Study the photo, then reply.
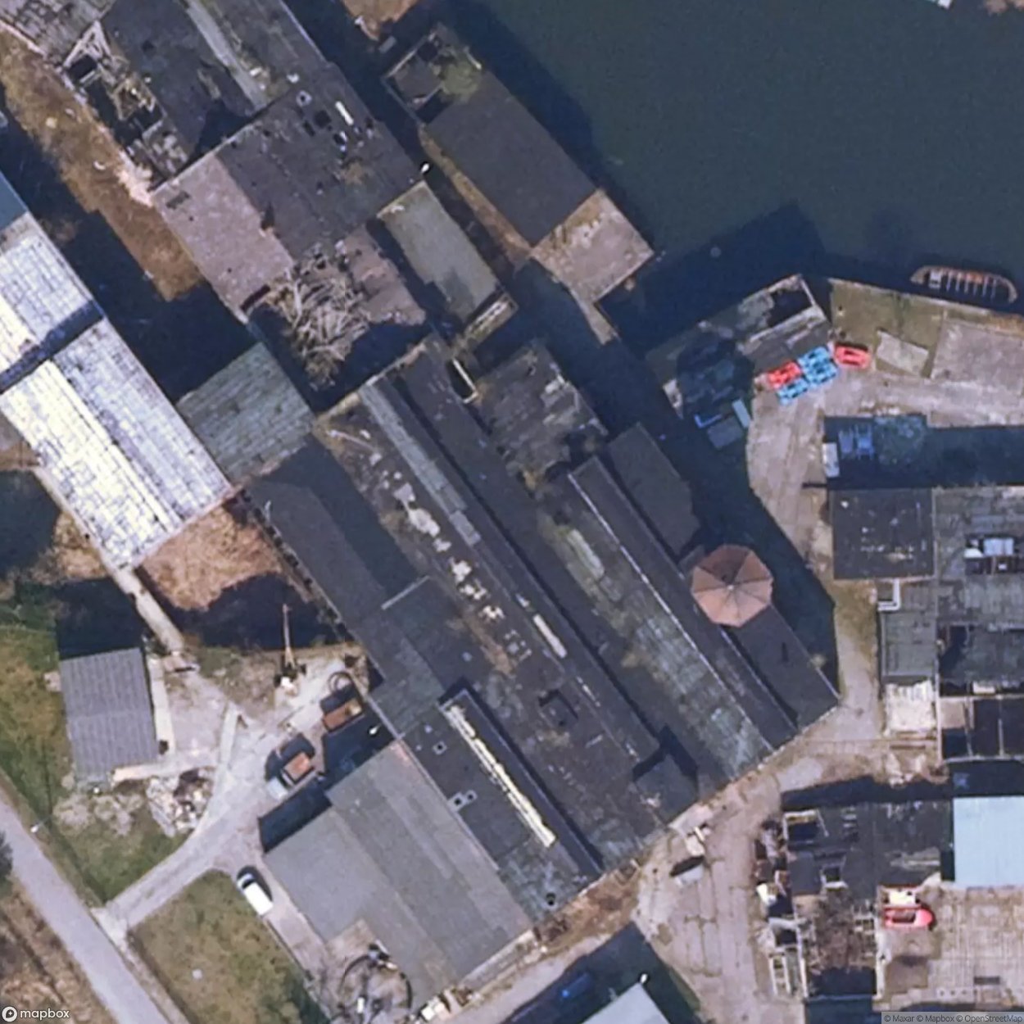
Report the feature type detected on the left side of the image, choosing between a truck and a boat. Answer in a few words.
truck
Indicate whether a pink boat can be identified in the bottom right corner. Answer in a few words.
Yes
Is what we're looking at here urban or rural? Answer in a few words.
urban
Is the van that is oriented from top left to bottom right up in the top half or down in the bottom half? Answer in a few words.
bottom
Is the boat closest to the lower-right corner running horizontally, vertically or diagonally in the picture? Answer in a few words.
horizontally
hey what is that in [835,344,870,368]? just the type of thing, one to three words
boat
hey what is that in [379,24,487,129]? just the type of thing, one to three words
shed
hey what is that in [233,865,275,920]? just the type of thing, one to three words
van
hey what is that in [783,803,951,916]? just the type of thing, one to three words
building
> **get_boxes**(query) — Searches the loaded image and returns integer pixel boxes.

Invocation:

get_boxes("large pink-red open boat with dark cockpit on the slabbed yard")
[885,908,935,929]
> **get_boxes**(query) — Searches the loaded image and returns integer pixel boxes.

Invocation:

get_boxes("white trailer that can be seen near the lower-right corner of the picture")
[884,886,922,906]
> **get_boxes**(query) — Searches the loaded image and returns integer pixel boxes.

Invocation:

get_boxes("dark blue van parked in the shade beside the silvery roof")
[556,960,610,1004]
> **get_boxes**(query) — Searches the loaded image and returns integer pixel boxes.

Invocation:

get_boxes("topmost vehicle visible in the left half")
[272,598,310,694]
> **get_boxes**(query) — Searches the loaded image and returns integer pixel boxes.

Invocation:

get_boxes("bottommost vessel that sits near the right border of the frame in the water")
[913,266,1014,313]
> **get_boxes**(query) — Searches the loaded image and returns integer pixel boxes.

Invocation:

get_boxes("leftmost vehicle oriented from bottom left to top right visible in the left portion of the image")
[264,753,318,797]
